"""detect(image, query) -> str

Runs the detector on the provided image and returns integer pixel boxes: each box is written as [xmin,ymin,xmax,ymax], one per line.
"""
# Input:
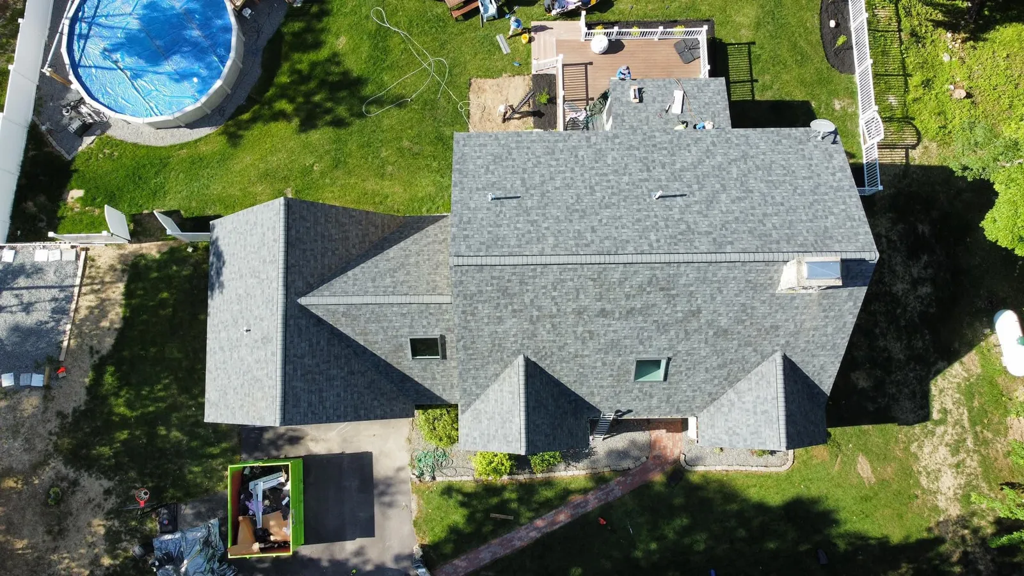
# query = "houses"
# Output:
[203,78,879,455]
